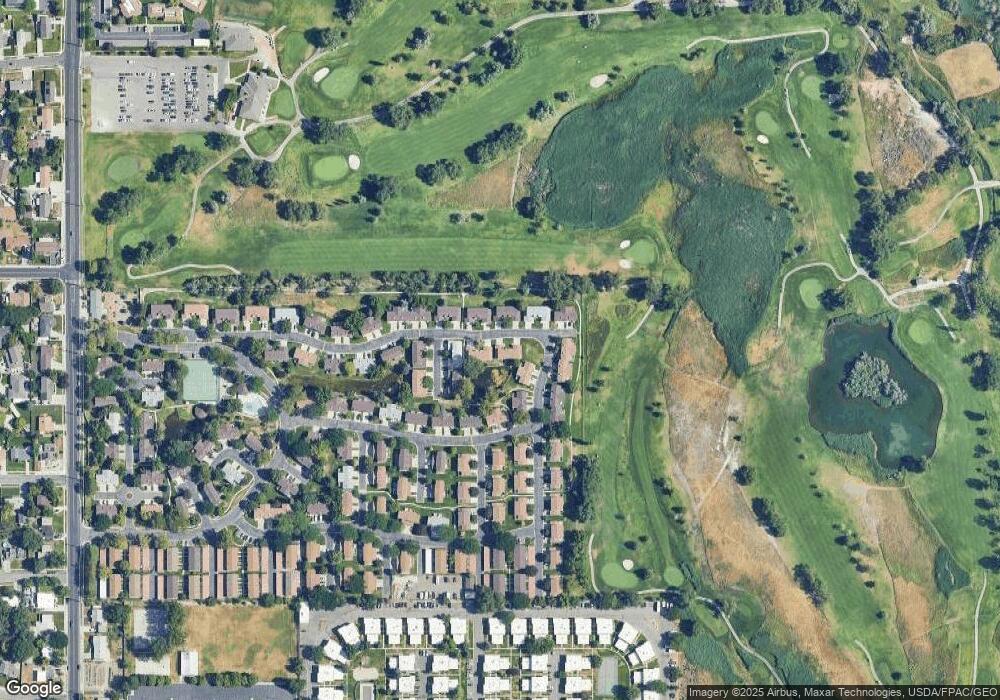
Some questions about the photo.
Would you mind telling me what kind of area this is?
golf course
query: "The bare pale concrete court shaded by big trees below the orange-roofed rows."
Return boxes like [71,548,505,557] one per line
[134,608,170,676]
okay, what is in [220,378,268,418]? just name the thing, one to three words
swimming pool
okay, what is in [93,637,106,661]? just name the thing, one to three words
building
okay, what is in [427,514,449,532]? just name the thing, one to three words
house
